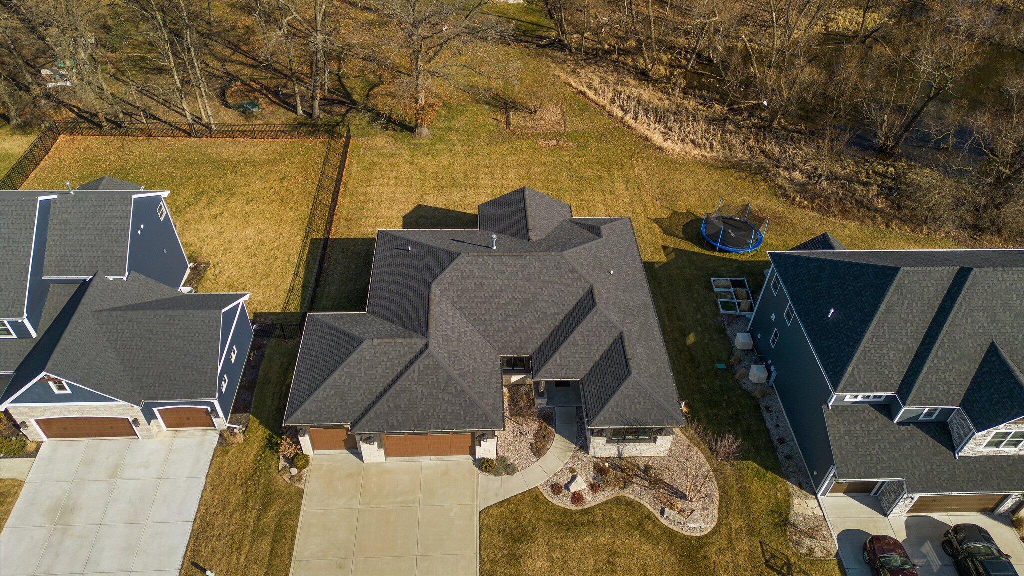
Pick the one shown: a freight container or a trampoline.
trampoline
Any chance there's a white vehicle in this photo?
No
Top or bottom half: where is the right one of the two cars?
bottom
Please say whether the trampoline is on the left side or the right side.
right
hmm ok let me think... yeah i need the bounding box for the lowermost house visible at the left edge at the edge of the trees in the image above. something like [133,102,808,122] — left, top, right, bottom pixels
[0,174,254,441]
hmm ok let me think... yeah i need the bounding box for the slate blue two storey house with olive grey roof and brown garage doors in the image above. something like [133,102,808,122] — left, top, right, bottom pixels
[749,233,1024,515]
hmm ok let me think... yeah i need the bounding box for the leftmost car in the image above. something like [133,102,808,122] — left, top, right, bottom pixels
[864,534,924,576]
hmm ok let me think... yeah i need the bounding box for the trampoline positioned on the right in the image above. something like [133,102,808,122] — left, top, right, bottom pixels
[697,196,774,260]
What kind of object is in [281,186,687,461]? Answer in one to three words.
house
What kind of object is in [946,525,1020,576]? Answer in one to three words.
car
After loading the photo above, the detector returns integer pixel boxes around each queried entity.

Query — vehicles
[864,534,924,576]
[946,525,1020,576]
